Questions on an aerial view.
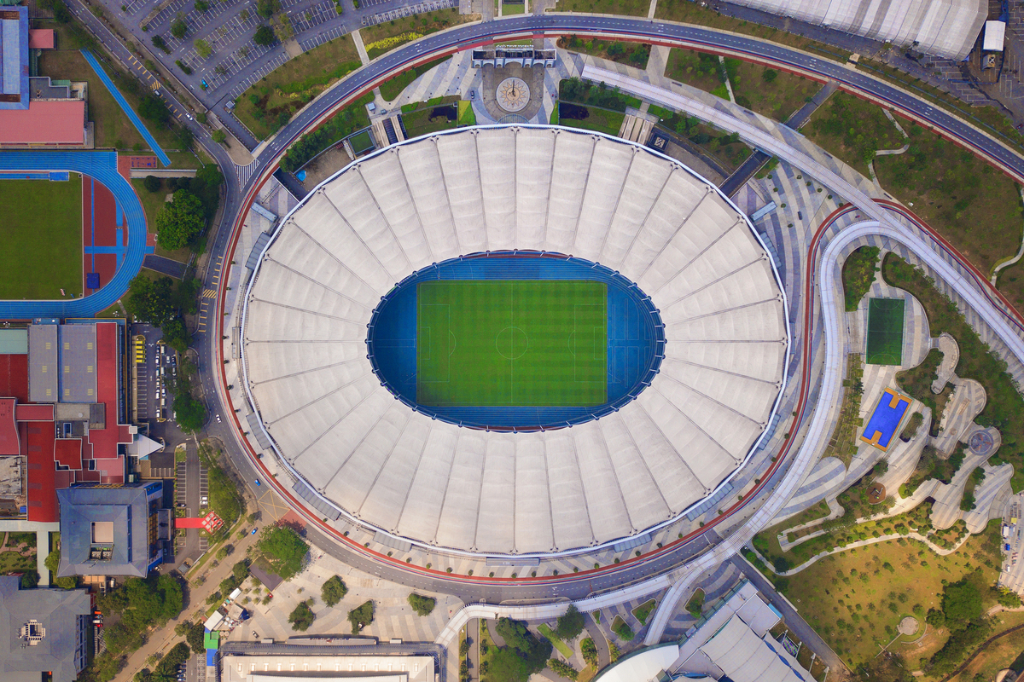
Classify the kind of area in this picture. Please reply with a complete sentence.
This looks like a sports ground.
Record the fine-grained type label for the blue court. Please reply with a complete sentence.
The blue court can be classified as a basketball court.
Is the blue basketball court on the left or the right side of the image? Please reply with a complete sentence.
The blue basketball court appears in the right half of the scene.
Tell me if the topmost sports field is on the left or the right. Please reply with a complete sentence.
The topmost sports field sits on the left side.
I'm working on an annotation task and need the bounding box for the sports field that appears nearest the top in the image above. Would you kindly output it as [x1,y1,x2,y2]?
[0,172,82,300]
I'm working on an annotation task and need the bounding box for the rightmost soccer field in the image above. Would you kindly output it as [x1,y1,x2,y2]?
[867,294,910,367]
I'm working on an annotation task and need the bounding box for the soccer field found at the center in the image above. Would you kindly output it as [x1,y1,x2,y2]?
[417,280,608,407]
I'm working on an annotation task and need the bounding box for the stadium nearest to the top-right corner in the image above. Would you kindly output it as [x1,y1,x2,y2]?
[241,123,790,558]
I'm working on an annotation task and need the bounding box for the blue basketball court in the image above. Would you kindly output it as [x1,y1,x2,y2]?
[862,386,916,454]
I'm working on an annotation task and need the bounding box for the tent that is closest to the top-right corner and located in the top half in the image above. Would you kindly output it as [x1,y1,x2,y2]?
[980,20,1005,53]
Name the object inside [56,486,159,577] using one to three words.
building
